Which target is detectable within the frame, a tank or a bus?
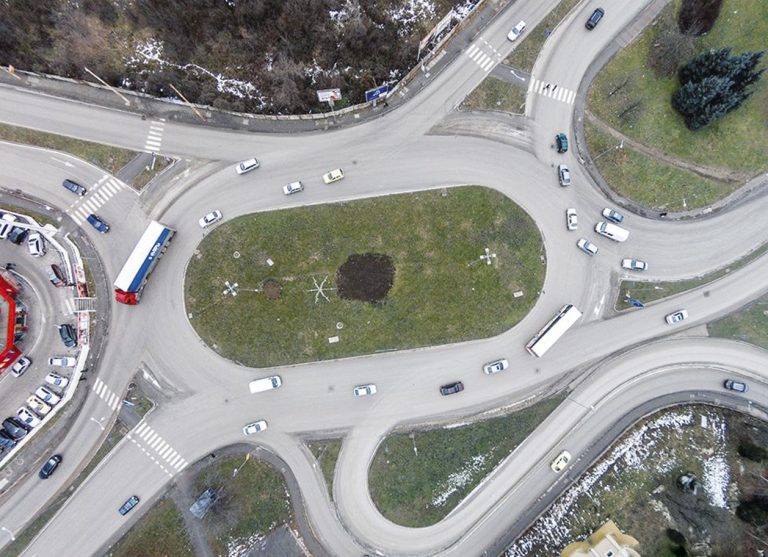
bus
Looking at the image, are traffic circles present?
Yes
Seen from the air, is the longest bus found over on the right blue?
No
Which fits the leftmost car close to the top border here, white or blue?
white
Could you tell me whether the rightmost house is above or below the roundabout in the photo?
below it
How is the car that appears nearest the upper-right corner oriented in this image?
on a diagonal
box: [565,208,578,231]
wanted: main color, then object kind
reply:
white vehicle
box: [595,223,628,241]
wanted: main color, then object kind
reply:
white vehicle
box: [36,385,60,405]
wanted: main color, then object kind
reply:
white car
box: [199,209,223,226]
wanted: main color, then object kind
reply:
white car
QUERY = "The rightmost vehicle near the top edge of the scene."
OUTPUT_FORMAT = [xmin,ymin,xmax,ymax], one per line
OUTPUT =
[583,8,604,32]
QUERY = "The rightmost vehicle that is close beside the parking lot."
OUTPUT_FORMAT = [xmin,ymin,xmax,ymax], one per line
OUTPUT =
[113,220,173,302]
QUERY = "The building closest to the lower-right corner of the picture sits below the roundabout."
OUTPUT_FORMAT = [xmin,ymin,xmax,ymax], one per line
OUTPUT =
[560,520,652,557]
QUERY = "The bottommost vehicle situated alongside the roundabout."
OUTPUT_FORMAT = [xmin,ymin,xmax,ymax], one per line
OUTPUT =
[243,419,268,435]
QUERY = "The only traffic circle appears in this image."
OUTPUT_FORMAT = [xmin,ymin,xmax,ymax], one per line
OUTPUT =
[130,132,599,421]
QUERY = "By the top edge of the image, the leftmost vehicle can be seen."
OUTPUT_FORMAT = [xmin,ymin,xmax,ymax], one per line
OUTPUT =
[506,20,526,43]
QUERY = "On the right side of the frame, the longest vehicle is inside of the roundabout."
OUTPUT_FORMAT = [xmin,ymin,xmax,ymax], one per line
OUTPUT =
[524,302,583,357]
